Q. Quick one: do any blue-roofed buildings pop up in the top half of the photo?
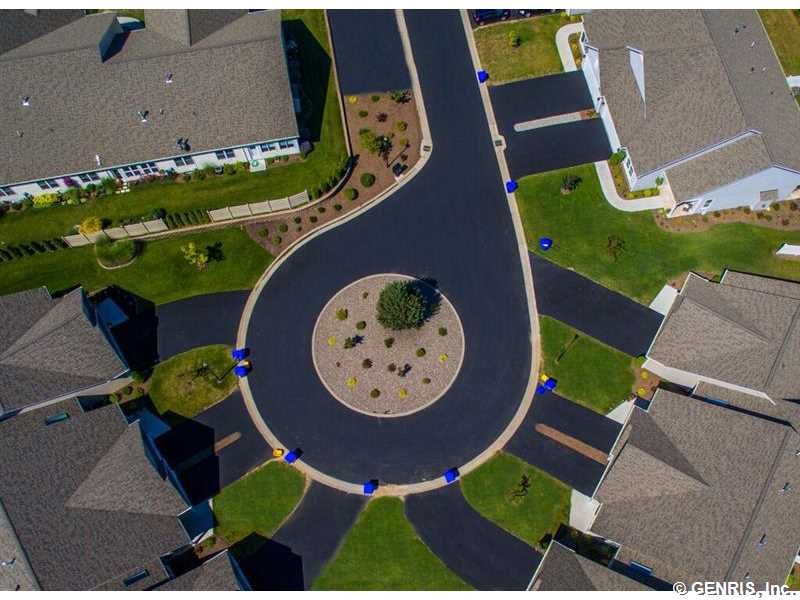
No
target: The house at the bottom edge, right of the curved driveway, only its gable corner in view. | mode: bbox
[521,541,670,600]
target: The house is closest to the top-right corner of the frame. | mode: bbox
[555,0,800,221]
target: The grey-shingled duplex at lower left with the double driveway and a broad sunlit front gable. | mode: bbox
[0,398,195,600]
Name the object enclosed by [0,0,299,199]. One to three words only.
house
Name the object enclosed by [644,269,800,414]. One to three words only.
house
